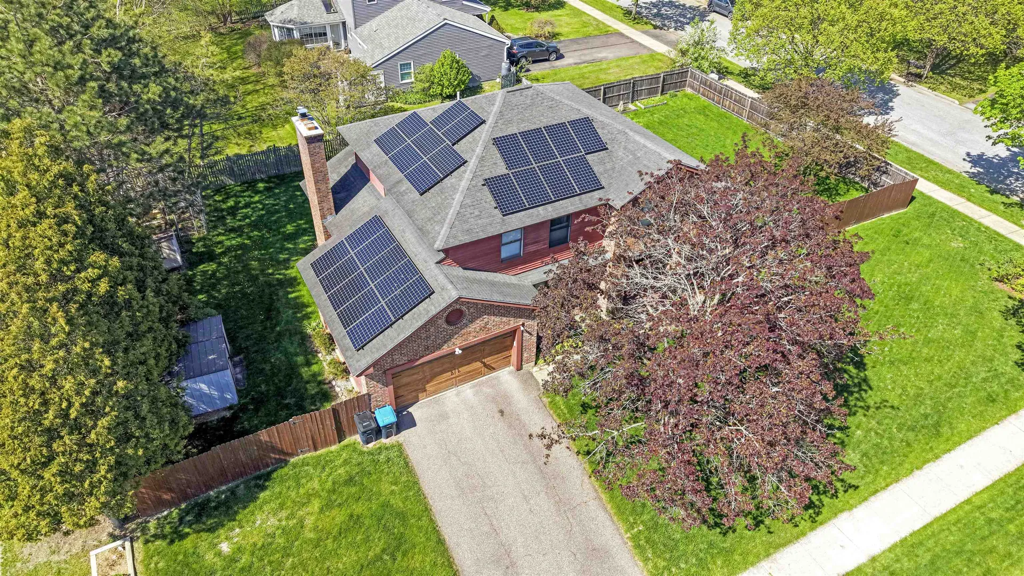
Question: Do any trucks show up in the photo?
No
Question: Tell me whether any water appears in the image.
No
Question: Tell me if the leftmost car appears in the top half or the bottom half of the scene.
top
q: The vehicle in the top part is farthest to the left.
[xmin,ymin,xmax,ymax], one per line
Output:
[504,35,558,65]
